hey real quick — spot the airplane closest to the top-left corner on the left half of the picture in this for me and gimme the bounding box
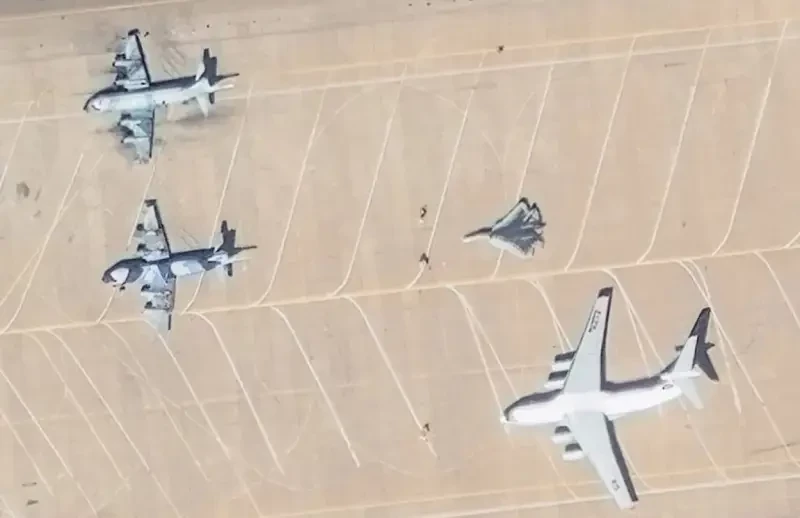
[84,35,234,163]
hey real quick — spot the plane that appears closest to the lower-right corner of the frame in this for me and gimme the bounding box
[502,295,706,510]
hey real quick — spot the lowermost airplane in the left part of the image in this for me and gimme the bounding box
[101,206,252,335]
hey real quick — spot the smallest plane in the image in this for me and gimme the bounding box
[462,205,543,259]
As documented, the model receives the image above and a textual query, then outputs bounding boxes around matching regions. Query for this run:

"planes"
[84,35,234,163]
[502,295,706,510]
[101,206,252,335]
[462,205,543,259]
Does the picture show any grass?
No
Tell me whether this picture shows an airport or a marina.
airport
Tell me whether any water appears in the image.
No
